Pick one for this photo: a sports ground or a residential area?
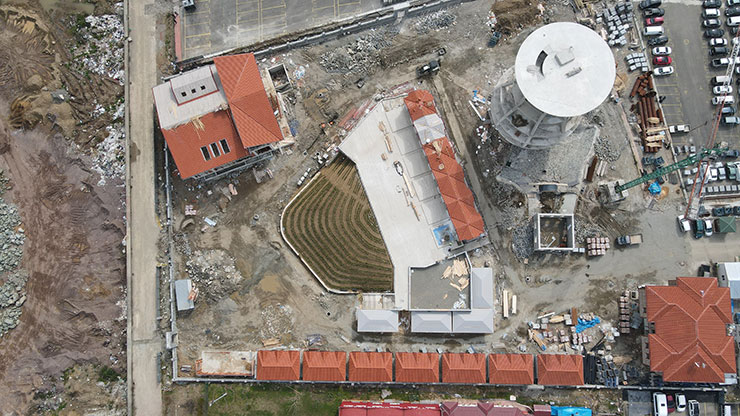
residential area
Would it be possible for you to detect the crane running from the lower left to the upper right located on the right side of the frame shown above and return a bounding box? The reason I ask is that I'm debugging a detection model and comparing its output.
[604,14,740,224]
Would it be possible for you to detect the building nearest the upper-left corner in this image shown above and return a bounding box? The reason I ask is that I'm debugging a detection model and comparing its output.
[152,53,291,185]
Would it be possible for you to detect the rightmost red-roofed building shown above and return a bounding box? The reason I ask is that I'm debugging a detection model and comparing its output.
[634,277,735,382]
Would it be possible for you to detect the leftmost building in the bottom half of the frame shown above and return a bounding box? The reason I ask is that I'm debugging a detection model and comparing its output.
[175,280,197,310]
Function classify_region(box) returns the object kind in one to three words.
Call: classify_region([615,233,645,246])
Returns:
vehicle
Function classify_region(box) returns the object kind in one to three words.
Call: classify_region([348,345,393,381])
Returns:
house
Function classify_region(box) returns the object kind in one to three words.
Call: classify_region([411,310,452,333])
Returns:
house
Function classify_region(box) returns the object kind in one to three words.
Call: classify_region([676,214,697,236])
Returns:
truck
